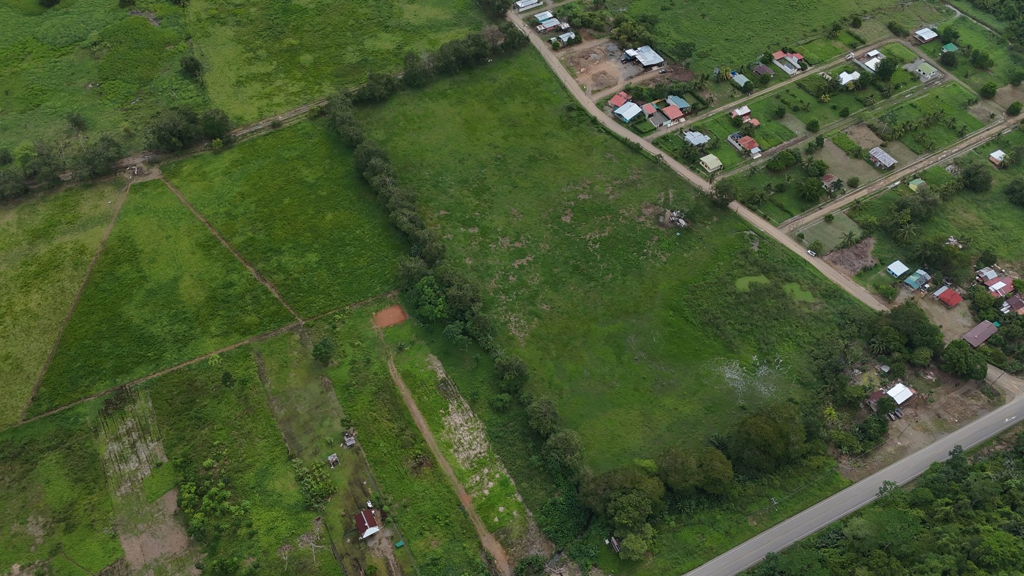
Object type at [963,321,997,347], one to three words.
house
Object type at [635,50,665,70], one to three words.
building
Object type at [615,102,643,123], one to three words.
house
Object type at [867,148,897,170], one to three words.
barn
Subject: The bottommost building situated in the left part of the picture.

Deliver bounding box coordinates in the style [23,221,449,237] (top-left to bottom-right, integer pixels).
[355,510,379,538]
